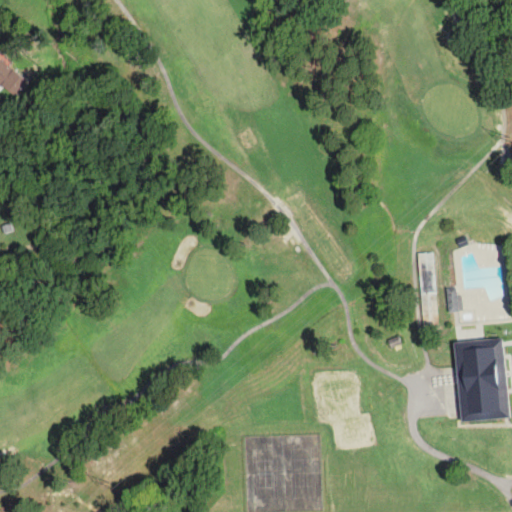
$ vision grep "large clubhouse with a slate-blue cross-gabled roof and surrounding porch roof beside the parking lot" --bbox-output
[454,338,509,422]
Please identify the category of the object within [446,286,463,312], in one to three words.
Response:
building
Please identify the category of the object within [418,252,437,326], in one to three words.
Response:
shed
